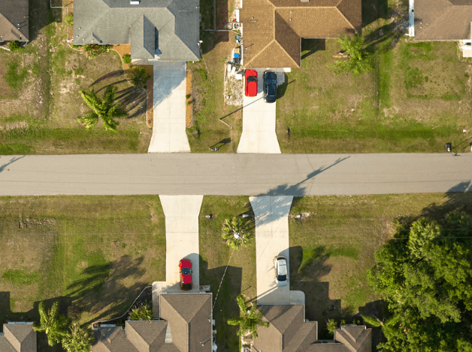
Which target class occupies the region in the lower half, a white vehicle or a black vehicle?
white vehicle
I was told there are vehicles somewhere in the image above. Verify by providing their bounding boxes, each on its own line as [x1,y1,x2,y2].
[244,70,260,97]
[262,71,279,103]
[274,255,291,287]
[178,259,194,291]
